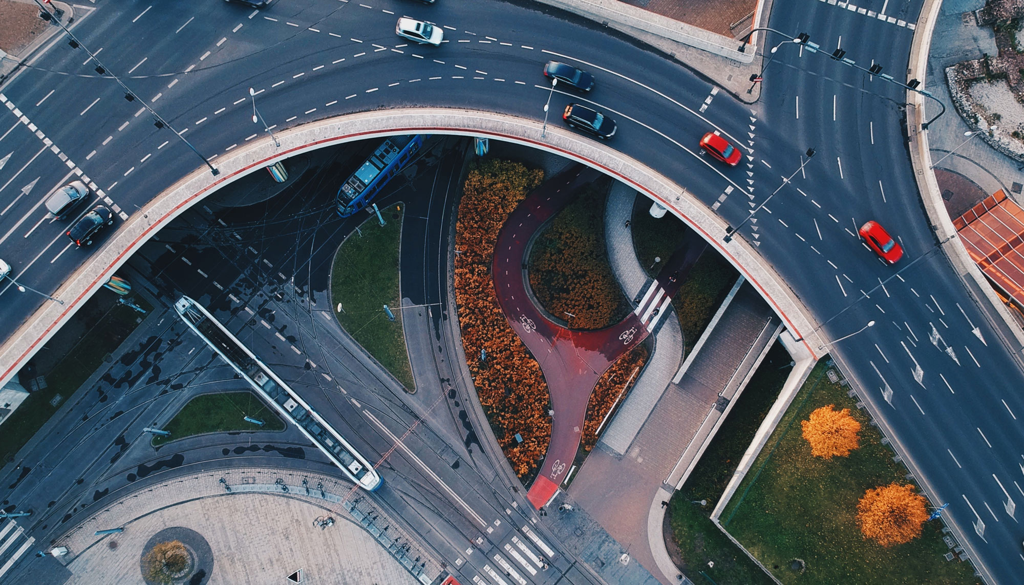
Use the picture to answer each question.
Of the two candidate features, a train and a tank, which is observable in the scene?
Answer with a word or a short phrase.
train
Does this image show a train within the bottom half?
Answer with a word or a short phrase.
Yes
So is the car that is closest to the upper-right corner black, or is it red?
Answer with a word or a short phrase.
red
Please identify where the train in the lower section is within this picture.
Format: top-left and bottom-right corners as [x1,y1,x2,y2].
[171,294,389,492]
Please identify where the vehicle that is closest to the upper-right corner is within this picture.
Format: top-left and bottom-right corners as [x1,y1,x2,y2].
[856,220,905,266]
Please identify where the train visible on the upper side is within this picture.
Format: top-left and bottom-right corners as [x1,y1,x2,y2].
[330,137,431,218]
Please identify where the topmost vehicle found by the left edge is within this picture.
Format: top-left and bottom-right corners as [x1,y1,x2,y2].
[42,178,92,219]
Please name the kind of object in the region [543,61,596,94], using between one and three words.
car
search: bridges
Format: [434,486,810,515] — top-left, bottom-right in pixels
[0,30,833,396]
